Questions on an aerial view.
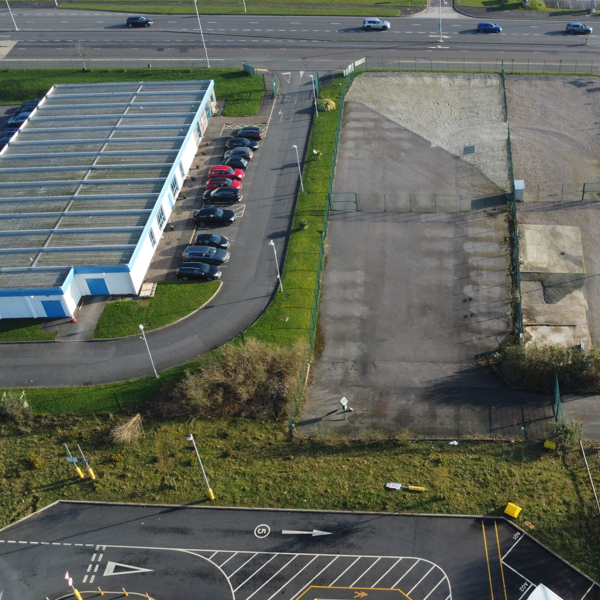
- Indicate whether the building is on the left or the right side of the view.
left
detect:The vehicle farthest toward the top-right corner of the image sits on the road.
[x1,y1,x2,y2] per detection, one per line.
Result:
[566,22,591,34]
